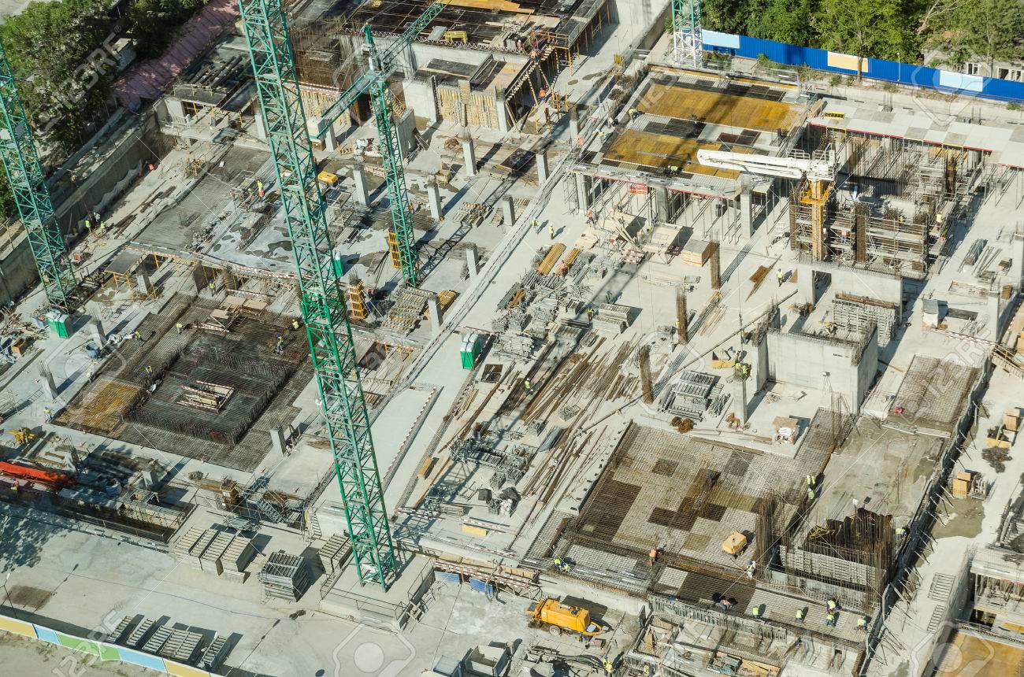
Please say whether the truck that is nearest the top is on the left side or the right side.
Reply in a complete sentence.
The truck that is nearest the top sits on the left side.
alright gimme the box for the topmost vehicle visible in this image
[0,457,73,502]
